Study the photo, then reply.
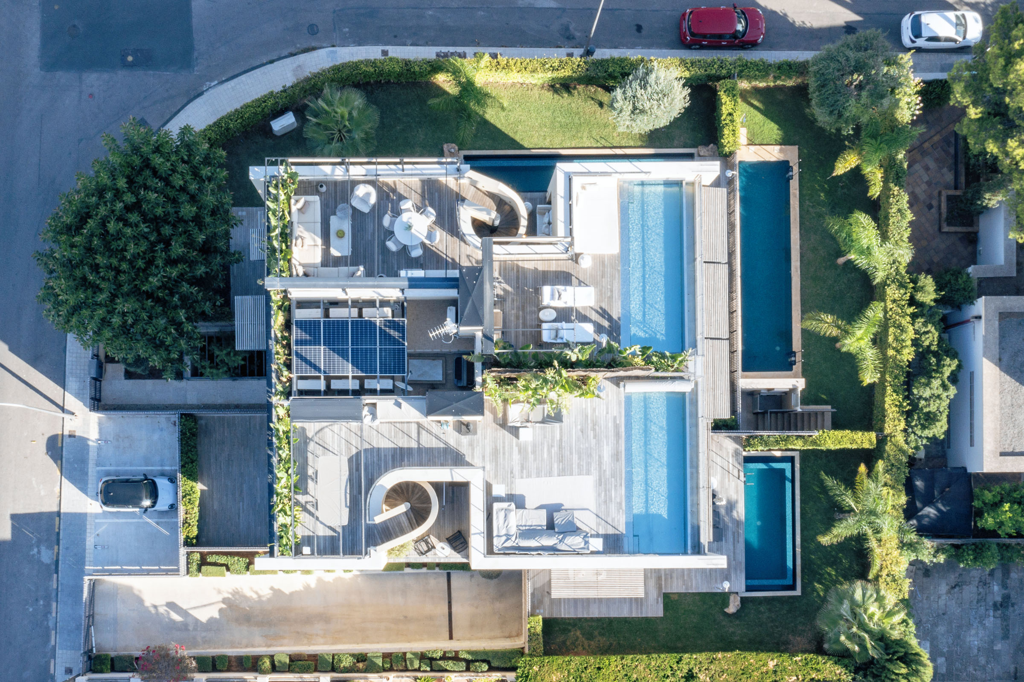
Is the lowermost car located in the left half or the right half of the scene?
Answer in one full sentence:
You can find the lowermost car on the left side of the picture.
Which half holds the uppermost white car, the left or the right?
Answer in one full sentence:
The uppermost white car appears in the right half of the scene.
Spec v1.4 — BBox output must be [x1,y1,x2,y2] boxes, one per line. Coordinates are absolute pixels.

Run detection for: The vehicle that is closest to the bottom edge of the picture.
[94,471,176,516]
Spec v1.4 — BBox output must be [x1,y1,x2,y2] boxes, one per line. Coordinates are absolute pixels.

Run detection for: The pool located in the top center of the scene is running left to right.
[461,150,699,193]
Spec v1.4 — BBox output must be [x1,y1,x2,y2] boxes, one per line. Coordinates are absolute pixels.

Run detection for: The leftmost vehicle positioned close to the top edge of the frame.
[682,0,766,46]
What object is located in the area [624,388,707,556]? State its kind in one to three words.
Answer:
swimming pool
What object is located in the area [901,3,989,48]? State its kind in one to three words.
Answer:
car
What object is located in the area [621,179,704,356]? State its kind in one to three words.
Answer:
swimming pool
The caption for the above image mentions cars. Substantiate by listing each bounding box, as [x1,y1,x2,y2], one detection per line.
[682,0,766,46]
[901,3,989,48]
[94,471,176,516]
